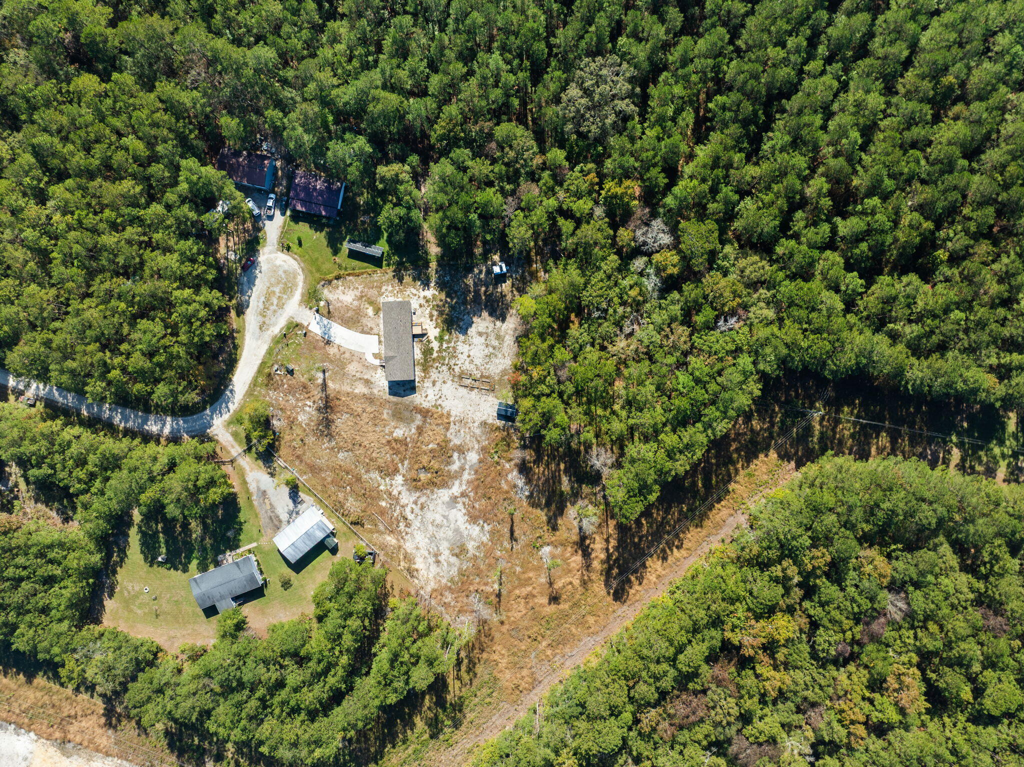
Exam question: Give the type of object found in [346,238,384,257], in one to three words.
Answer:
shed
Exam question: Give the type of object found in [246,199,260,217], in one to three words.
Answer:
car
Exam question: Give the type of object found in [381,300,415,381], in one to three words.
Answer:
house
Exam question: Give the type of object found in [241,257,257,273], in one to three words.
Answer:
car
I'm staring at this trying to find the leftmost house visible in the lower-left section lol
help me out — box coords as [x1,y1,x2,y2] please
[189,555,261,609]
